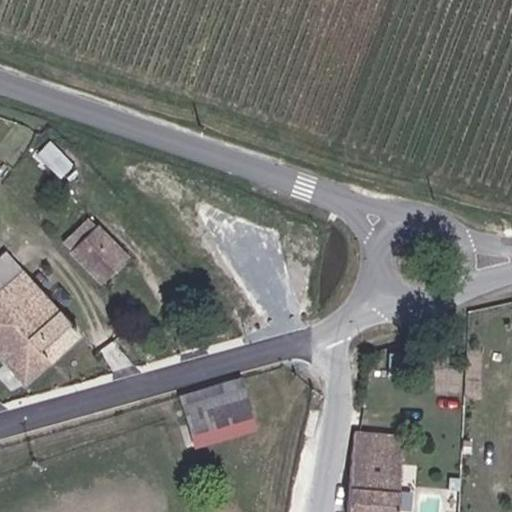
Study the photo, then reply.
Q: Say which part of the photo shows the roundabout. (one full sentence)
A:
The roundabout is located in the right region of the scene.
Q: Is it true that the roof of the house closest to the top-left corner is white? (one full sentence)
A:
Yes, the roof of the house closest to the top-left corner appears white.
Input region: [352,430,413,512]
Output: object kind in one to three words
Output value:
house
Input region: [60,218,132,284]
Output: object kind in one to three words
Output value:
barn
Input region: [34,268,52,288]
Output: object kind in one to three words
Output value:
car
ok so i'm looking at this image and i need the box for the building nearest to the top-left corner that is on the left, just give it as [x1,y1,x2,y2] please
[38,140,74,177]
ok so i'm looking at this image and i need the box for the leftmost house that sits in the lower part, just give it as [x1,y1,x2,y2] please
[0,250,83,392]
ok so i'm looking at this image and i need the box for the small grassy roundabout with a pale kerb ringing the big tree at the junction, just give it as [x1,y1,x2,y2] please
[311,184,512,364]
